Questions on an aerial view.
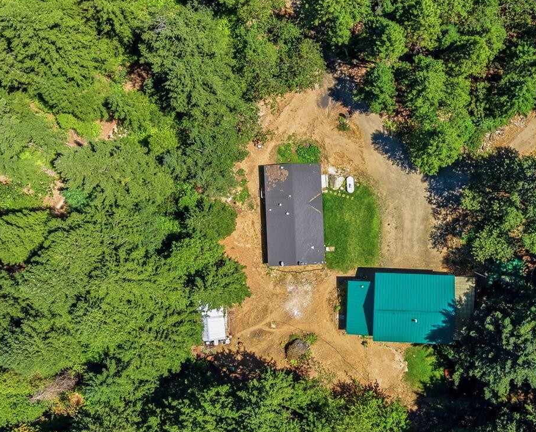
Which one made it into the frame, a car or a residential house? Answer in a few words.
residential house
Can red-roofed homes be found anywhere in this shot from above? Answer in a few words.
No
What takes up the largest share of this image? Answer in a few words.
trees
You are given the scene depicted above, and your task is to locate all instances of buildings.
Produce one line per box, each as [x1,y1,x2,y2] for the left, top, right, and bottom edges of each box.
[264,162,326,267]
[203,306,231,344]
[346,272,475,345]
